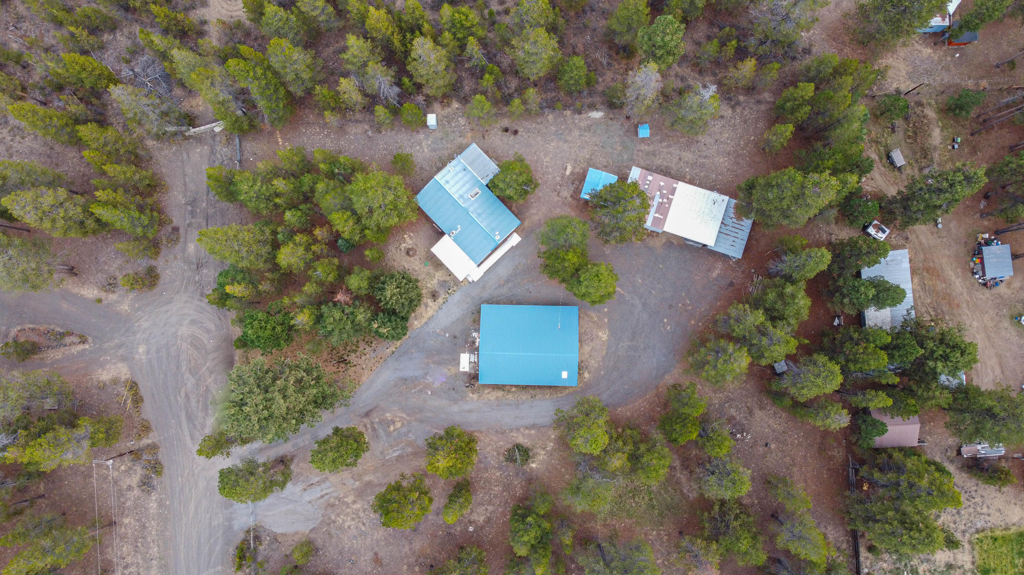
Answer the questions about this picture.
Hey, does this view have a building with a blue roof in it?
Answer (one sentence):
Yes, there's a building with a blue roof down there.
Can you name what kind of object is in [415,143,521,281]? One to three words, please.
house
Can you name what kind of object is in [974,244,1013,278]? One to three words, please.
shed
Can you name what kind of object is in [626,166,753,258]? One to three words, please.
shed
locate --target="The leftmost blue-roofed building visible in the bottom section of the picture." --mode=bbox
[475,304,579,387]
